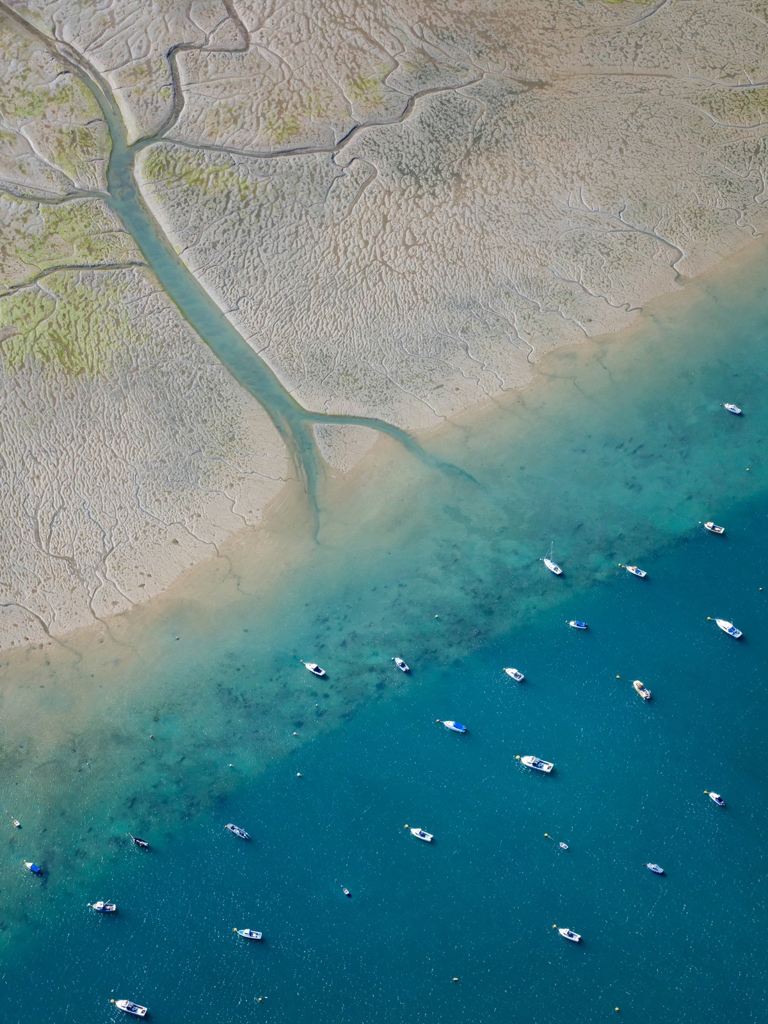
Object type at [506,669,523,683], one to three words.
boat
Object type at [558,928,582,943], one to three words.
boat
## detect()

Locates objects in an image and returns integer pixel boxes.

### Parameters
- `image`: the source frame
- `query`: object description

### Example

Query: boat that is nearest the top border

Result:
[724,403,741,415]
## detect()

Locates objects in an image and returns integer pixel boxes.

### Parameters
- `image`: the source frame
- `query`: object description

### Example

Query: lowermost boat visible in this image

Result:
[115,999,149,1017]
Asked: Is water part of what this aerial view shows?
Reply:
Yes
